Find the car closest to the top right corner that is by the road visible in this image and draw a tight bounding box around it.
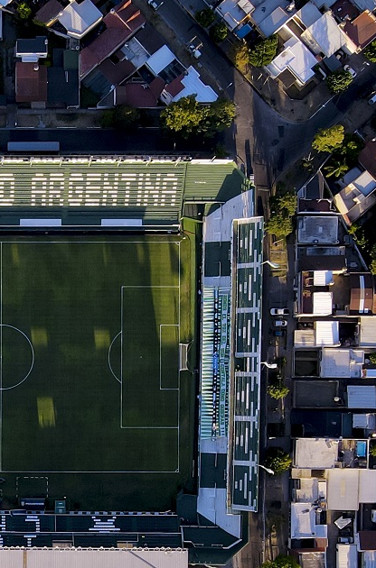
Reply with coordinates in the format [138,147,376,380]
[343,65,356,78]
